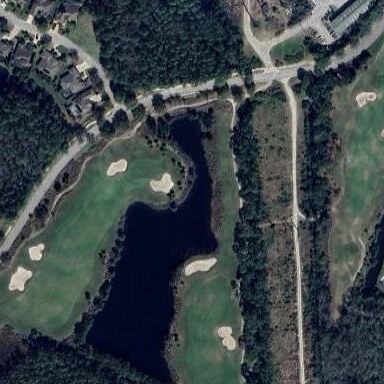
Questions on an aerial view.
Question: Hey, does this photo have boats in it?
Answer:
No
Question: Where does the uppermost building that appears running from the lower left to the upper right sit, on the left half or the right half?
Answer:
right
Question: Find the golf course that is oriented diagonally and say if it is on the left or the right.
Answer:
left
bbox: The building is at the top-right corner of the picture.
[328,0,376,34]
